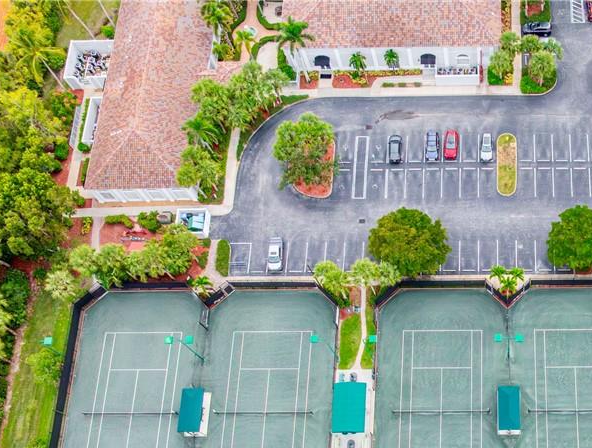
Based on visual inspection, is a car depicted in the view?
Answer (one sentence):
Yes, the image includes a car.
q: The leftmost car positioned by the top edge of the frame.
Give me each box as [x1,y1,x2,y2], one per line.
[521,20,552,37]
